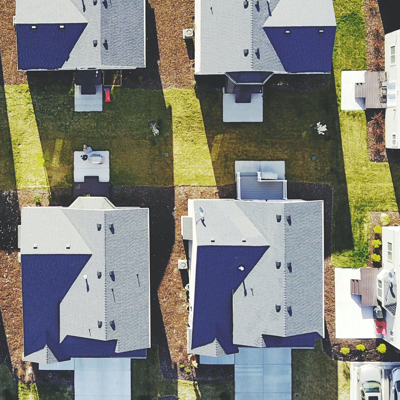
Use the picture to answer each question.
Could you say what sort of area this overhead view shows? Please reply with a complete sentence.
The area seen from above is a residential area.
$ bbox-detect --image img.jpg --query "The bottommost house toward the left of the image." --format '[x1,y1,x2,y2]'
[17,194,151,364]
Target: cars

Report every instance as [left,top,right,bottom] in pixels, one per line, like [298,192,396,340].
[356,362,383,400]
[387,365,400,400]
